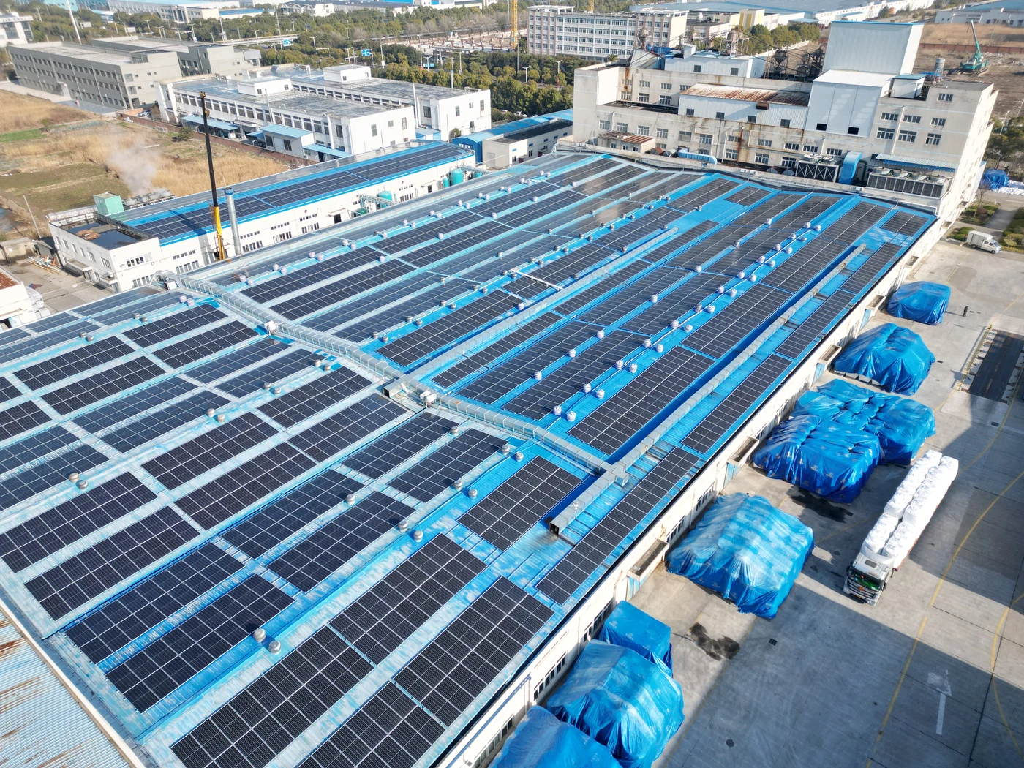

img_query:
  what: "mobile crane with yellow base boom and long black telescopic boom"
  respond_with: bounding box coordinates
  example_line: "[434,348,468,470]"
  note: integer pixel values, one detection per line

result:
[200,88,224,260]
